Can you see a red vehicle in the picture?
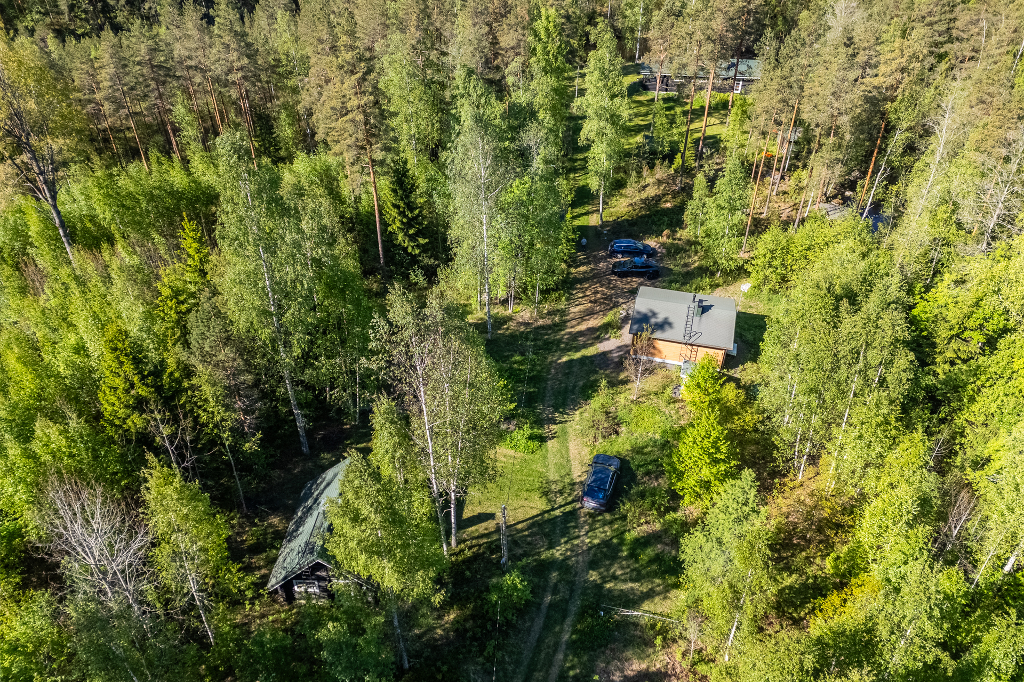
No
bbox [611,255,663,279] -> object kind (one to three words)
car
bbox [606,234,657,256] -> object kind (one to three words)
car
